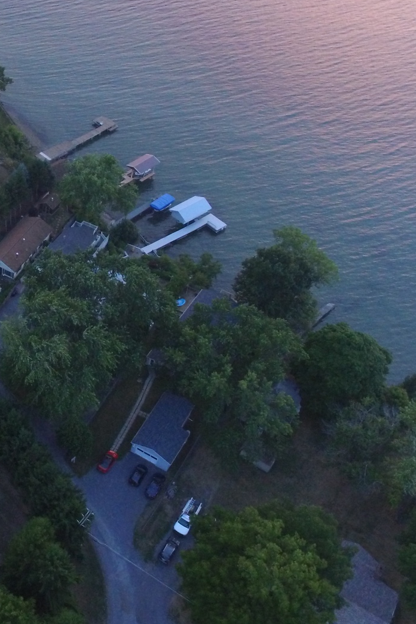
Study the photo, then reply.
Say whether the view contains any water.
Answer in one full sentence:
Yes, there's water in this view.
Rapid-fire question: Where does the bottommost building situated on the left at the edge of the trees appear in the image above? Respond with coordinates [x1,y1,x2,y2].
[131,394,191,474]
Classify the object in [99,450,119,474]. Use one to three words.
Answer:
car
